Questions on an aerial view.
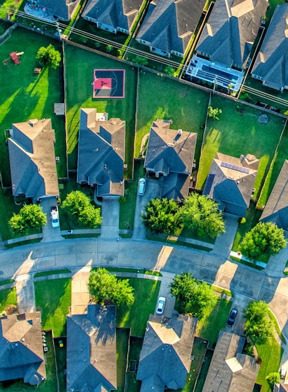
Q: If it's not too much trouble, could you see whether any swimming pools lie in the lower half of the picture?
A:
No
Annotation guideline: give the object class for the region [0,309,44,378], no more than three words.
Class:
house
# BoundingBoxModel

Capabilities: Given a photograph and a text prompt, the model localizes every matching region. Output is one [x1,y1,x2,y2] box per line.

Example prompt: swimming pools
[186,53,247,95]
